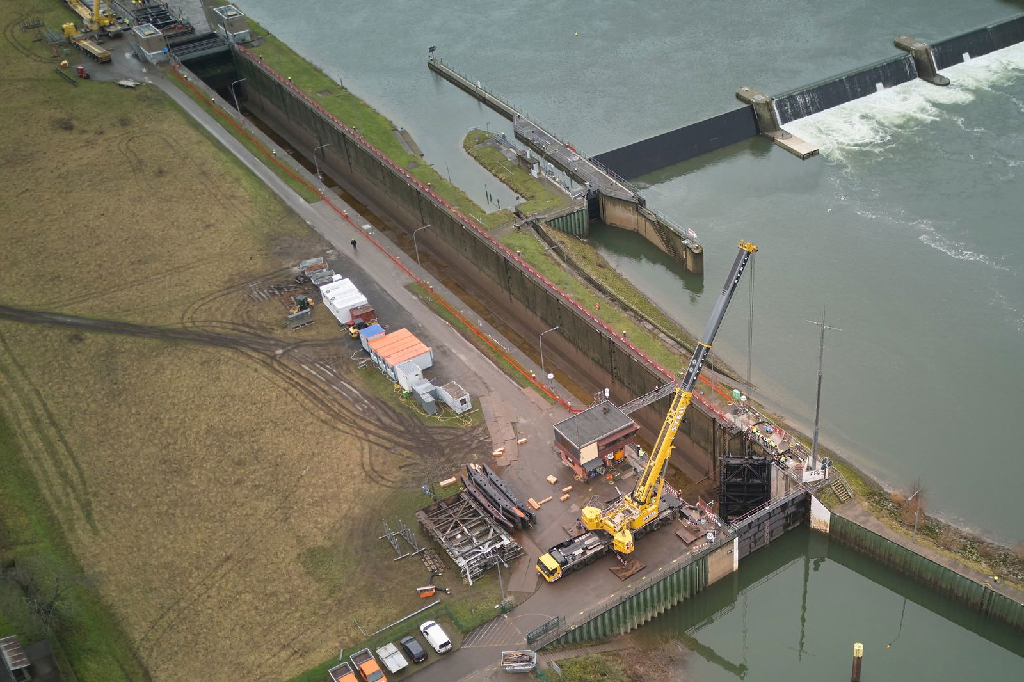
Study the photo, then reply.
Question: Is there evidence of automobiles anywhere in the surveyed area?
Yes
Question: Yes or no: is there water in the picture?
Yes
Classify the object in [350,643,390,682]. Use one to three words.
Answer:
truck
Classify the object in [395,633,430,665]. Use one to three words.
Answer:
car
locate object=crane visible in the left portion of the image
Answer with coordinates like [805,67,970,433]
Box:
[86,0,133,41]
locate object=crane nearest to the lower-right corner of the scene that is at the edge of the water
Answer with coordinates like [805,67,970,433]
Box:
[532,245,757,587]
